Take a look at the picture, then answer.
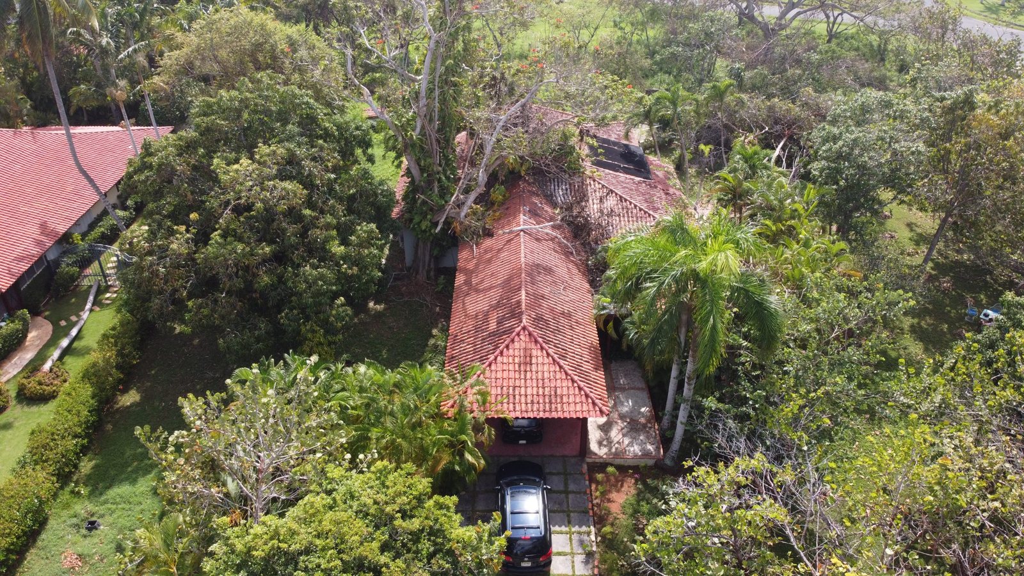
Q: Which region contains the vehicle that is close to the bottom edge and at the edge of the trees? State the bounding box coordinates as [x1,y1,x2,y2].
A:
[493,455,553,574]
